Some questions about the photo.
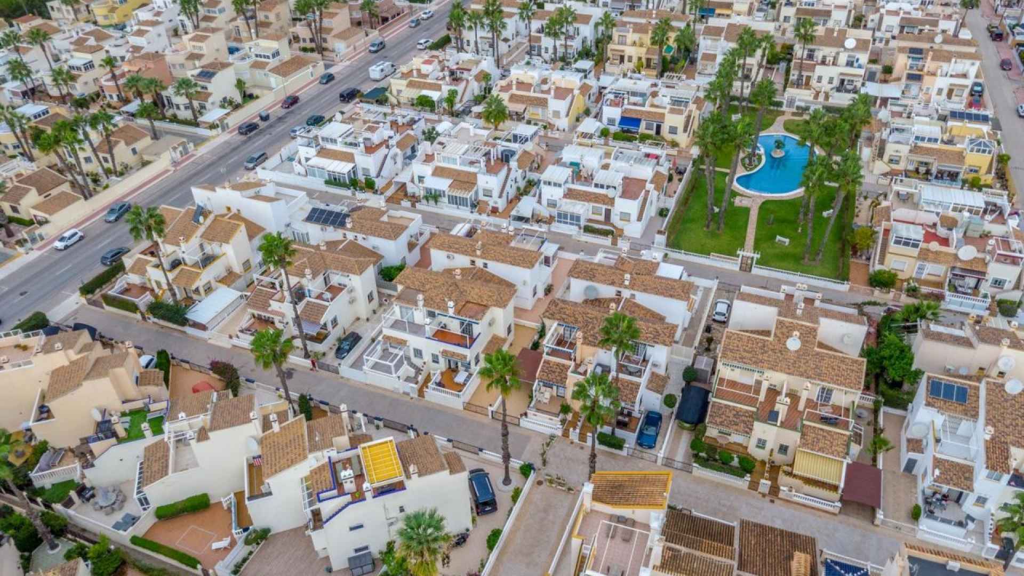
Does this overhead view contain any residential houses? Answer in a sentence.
Yes, this view includes a residential house.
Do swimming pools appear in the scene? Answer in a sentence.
Yes, the photo shows a swimming pool.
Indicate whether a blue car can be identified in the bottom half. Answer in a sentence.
Yes, a blue car shows up in the bottom half.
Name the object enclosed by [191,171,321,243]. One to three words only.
house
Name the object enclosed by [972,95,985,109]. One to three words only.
vehicle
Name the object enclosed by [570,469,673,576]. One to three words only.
house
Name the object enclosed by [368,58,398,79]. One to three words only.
camper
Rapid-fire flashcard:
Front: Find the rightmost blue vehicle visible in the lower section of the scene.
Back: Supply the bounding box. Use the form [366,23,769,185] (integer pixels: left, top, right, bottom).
[635,411,663,446]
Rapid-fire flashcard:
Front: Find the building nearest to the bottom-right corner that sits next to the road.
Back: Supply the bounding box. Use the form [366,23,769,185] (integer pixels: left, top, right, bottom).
[894,531,1003,576]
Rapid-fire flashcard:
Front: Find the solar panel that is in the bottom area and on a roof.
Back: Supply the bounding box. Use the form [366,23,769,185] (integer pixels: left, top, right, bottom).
[933,379,968,407]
